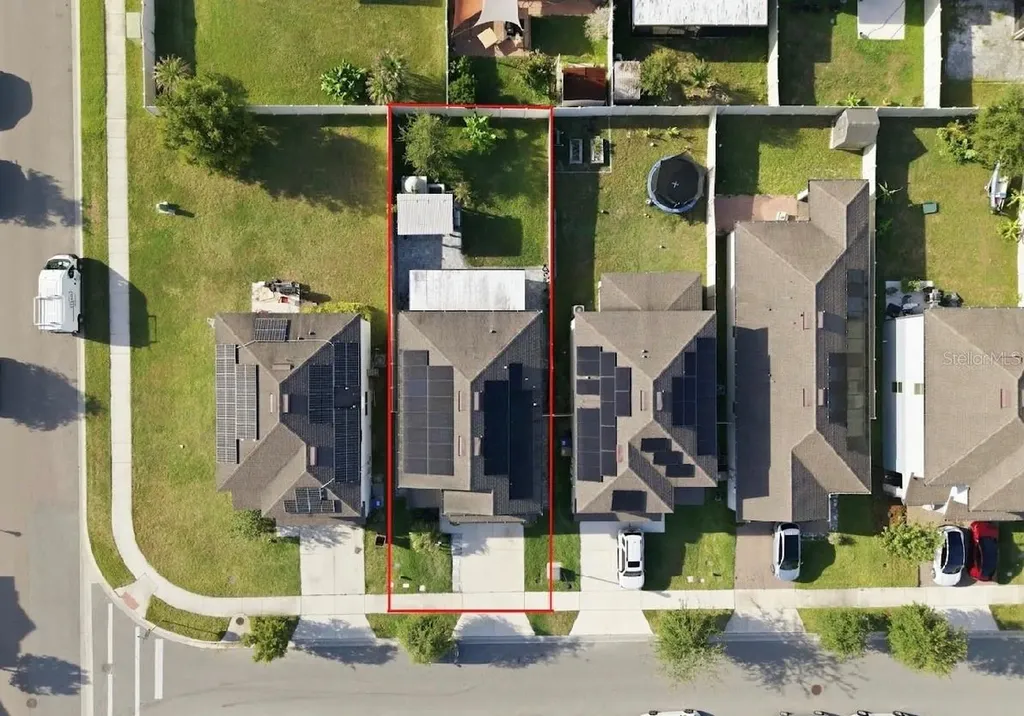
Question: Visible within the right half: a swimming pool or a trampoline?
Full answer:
Looking within the right half, you will find a trampoline.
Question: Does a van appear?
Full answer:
Yes, looking at the shot, I can spot a van.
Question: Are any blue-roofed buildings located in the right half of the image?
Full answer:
No, there is no blue-roofed building in the right half of the image.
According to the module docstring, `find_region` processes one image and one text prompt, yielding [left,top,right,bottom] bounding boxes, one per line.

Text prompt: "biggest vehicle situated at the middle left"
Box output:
[31,257,84,335]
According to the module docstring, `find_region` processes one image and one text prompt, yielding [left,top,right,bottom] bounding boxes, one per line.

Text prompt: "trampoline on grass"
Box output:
[648,147,709,213]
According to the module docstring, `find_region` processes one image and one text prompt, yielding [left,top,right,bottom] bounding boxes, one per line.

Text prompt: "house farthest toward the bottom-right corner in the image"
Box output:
[884,307,1024,521]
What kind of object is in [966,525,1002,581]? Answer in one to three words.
car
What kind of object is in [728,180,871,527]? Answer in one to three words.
house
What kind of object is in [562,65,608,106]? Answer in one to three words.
shed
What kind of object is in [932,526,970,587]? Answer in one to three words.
car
